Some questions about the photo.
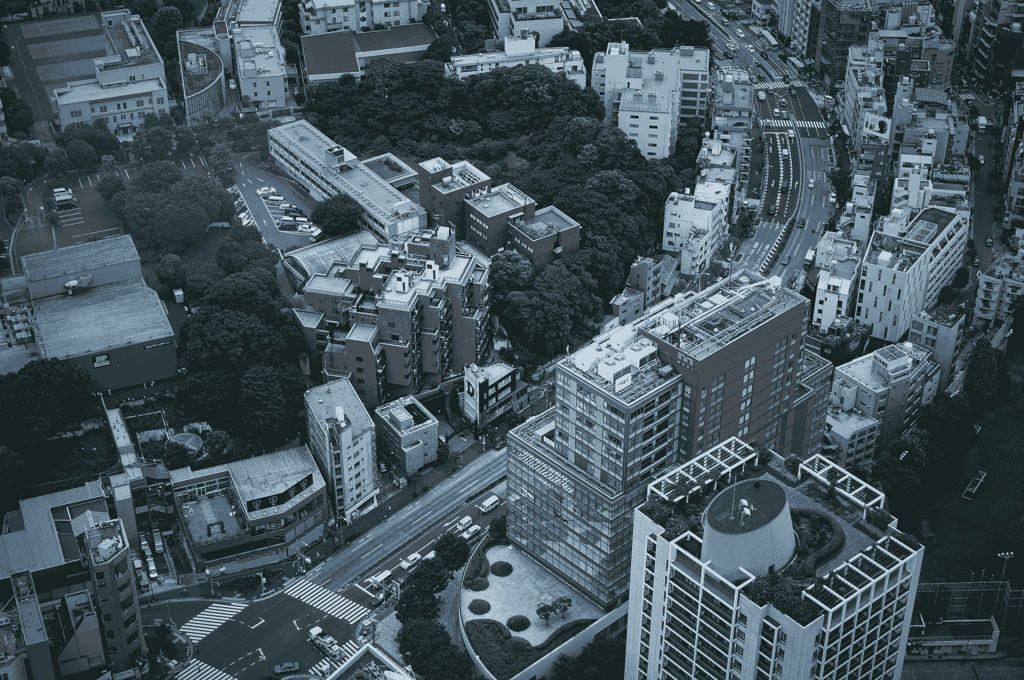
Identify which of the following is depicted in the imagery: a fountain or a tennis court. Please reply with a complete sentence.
It is a tennis court that can be seen here.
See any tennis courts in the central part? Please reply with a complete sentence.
No, no tennis court appears in the central part.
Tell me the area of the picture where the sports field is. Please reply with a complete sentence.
The sports field is located in the bottom right region of the scene.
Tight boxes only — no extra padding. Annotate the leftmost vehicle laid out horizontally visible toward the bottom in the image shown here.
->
[275,663,299,675]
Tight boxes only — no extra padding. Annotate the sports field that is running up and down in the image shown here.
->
[905,360,1024,659]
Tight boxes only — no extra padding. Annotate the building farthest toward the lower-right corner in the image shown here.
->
[901,615,1000,669]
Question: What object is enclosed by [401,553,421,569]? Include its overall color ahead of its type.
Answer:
white car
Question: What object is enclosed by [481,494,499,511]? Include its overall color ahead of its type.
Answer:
white vehicle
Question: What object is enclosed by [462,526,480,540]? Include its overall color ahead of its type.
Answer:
white car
